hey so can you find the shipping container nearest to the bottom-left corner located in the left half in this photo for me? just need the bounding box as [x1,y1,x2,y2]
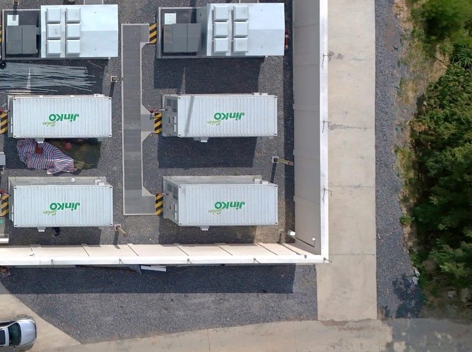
[6,174,113,232]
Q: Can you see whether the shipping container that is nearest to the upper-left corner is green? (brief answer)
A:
No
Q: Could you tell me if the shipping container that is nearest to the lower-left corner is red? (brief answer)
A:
No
